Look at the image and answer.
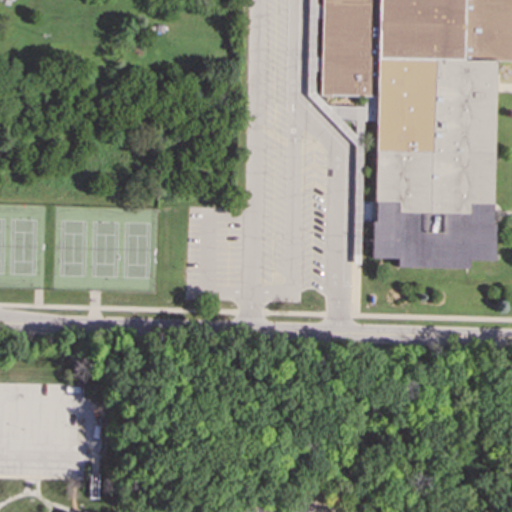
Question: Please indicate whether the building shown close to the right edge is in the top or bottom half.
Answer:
top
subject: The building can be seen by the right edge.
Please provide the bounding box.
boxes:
[372,0,512,273]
